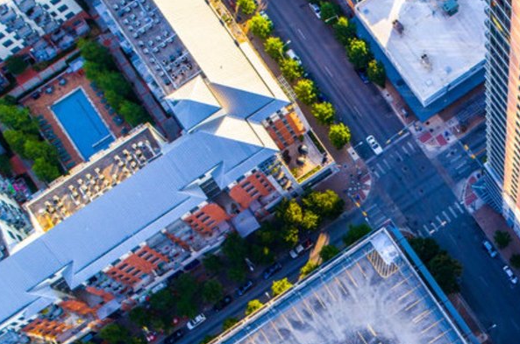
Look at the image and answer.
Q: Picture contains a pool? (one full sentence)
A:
Yes, the image includes a pool.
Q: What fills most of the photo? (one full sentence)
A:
Most of the picture is covered by buildings.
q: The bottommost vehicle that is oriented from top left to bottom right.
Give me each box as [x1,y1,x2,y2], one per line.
[501,265,519,286]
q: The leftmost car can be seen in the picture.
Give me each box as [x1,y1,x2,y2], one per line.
[163,329,185,344]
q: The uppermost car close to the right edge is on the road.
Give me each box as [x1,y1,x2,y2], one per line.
[481,239,498,260]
